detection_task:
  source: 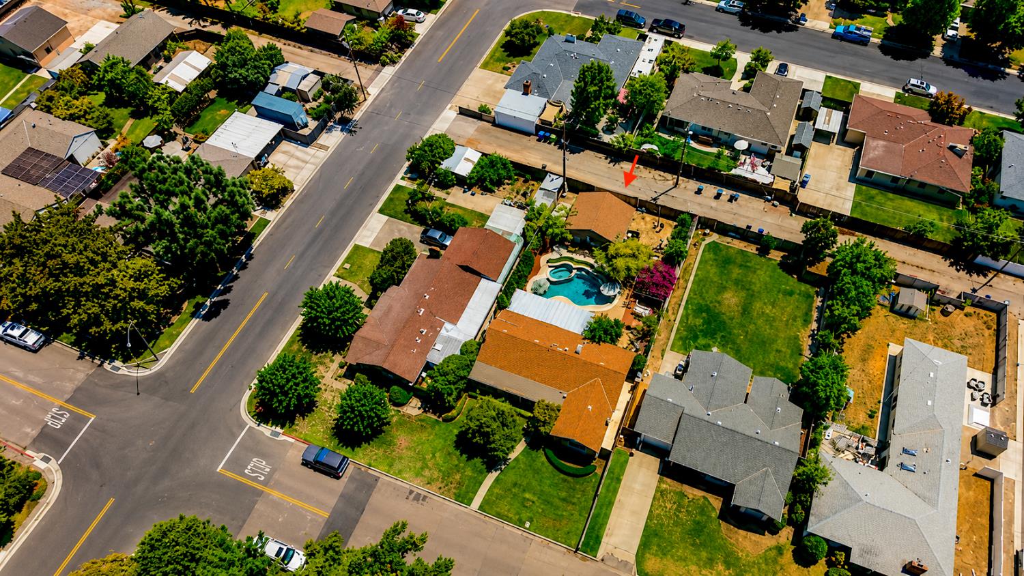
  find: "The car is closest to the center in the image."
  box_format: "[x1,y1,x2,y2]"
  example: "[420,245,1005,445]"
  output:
[417,228,452,251]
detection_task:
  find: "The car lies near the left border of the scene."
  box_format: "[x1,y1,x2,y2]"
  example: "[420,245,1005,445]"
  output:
[1,325,44,352]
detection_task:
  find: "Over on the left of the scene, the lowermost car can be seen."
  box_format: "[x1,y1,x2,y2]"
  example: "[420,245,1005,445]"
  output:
[255,535,308,573]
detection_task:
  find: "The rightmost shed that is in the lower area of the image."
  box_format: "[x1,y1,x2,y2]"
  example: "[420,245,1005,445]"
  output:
[973,428,1009,457]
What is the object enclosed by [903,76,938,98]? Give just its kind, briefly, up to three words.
car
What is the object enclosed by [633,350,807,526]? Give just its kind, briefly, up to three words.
house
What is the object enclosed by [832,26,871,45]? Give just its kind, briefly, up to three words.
vehicle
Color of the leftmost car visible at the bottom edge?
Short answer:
white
